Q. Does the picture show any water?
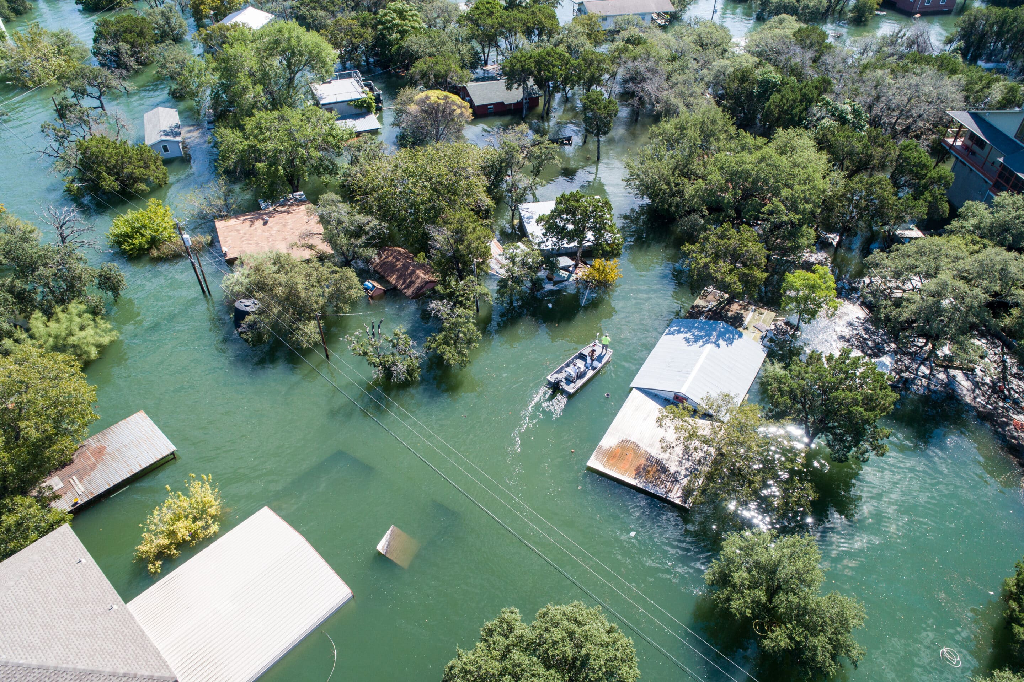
Yes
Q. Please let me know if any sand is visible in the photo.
No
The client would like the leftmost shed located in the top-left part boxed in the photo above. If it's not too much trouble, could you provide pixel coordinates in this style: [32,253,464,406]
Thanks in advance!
[146,112,187,161]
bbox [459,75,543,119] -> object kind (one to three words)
house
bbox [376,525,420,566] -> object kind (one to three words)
shed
